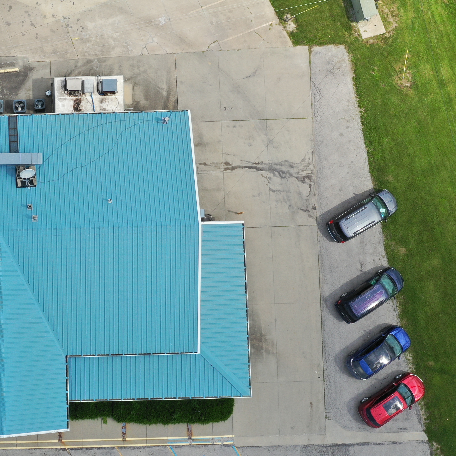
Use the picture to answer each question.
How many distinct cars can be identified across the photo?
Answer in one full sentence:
The photo contains 4 cars.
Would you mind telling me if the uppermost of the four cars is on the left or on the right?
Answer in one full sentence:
The uppermost of the four cars appears in the right half of the scene.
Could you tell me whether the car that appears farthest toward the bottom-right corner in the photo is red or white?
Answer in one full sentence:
In this view, the car that appears farthest toward the bottom-right corner is red.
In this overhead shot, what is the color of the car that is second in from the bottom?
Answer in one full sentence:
The color of the car that is second in from the bottom is blue.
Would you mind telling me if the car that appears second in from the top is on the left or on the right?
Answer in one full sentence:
You can find the car that appears second in from the top on the right side of the picture.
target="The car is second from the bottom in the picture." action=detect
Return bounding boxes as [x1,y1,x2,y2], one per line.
[345,326,411,382]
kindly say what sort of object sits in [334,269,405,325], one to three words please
car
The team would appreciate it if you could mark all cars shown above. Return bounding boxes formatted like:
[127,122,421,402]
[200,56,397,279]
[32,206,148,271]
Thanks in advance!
[345,326,411,382]
[326,191,397,245]
[356,376,424,431]
[334,269,405,325]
